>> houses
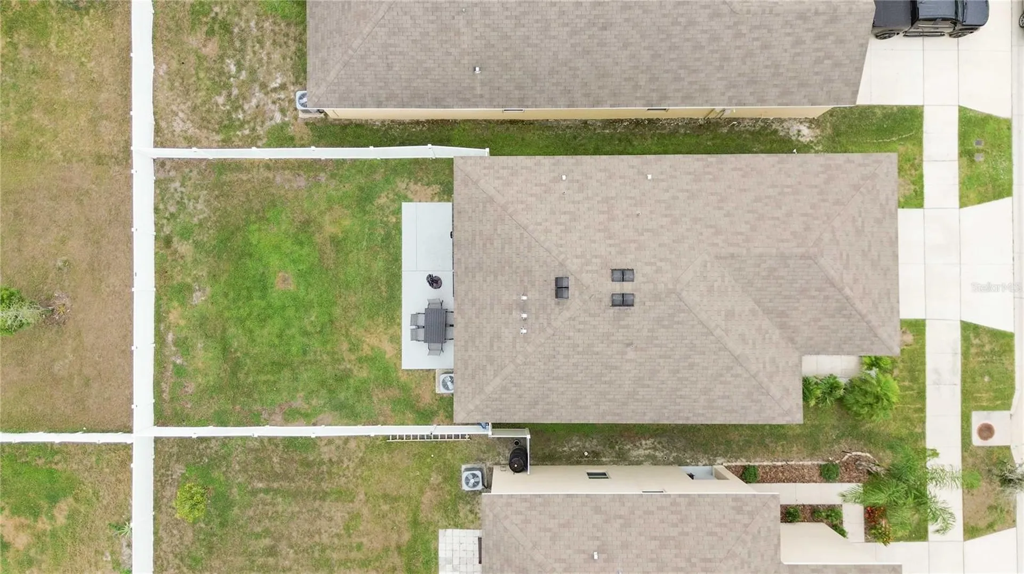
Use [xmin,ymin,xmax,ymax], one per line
[452,153,900,424]
[482,464,901,574]
[306,0,873,125]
